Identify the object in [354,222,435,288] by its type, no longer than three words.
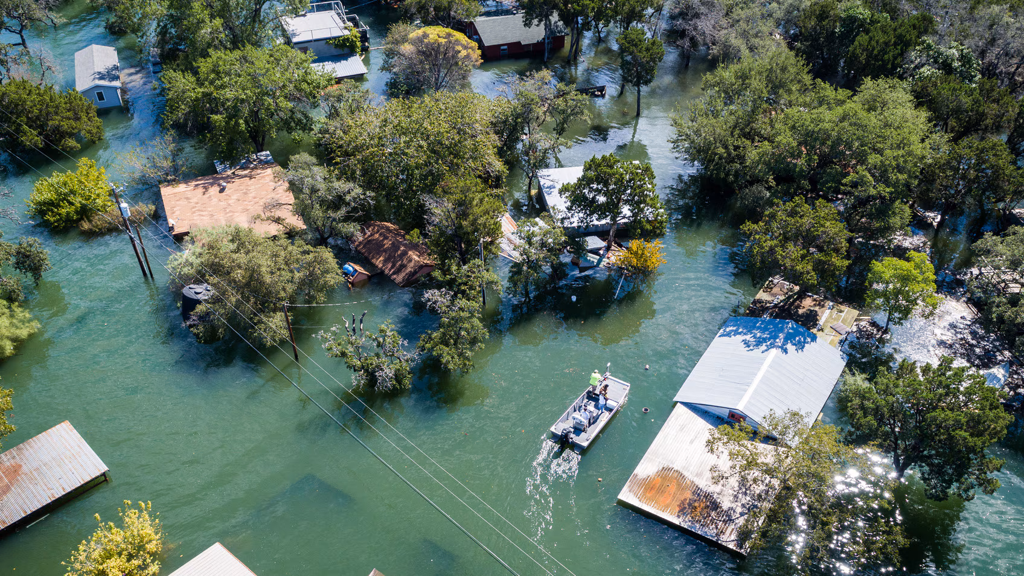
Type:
house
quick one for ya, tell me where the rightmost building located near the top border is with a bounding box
[469,9,568,62]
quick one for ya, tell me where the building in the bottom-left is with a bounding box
[174,541,257,576]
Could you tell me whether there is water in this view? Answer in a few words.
Yes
